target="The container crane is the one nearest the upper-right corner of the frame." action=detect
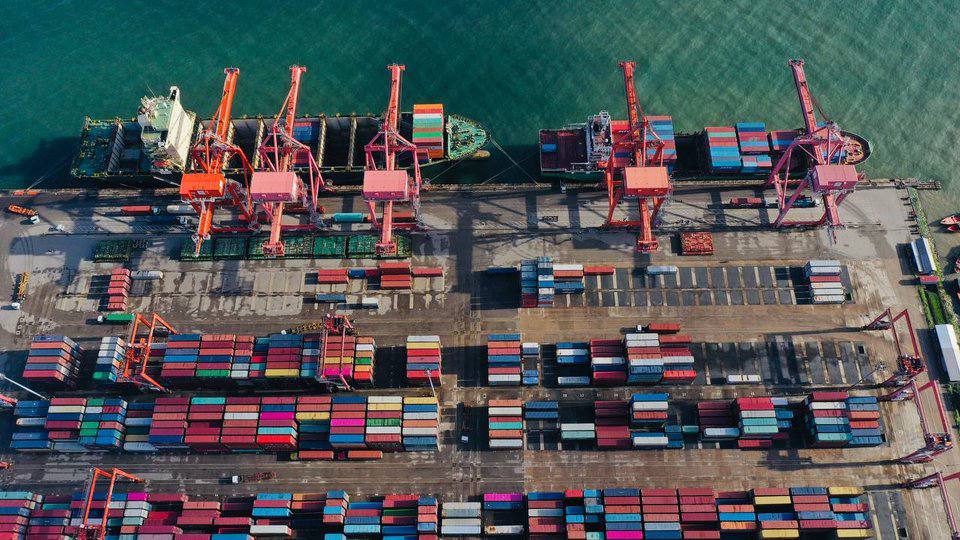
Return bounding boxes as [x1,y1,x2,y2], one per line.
[764,60,871,248]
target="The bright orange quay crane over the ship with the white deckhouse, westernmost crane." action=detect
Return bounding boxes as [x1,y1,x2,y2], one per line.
[172,64,267,252]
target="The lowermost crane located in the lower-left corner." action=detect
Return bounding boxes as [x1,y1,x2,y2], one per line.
[73,467,150,540]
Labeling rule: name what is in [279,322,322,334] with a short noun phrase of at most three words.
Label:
vehicle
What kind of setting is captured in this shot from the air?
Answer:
port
